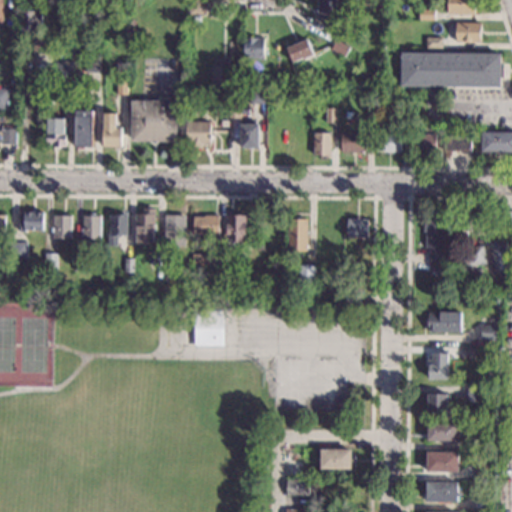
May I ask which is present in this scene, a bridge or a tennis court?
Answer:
tennis court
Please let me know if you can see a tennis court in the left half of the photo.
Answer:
Yes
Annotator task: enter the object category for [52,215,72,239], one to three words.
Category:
house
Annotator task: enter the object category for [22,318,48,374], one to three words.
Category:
tennis court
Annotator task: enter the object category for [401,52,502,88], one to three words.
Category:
building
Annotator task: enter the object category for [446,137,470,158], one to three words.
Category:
house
